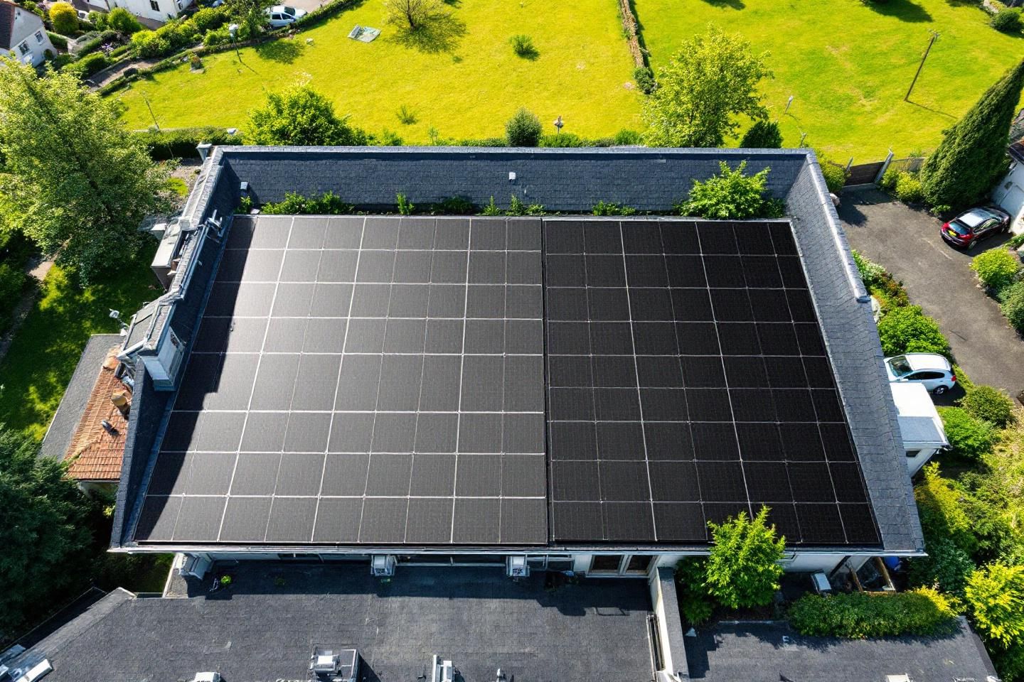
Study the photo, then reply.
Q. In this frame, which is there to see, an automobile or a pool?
automobile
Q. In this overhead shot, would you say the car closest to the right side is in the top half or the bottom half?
top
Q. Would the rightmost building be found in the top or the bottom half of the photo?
top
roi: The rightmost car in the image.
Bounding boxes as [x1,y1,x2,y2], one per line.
[950,207,1014,242]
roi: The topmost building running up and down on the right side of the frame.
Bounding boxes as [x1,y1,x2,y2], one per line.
[991,149,1024,231]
